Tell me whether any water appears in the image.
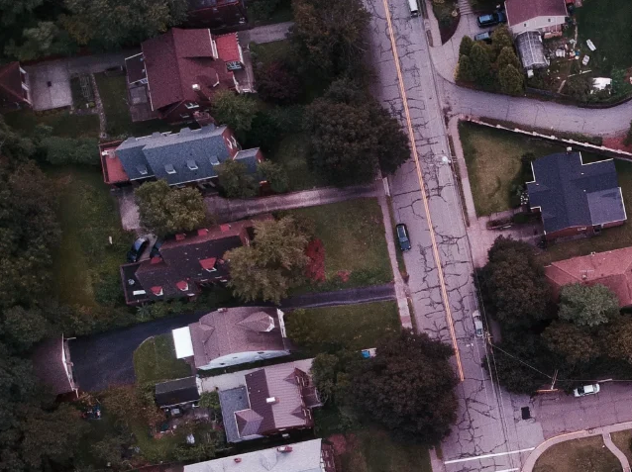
No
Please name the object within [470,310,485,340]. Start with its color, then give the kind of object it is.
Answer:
gray car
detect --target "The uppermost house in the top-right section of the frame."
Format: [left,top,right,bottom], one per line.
[504,0,568,43]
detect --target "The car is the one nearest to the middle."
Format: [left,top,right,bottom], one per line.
[395,222,412,252]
